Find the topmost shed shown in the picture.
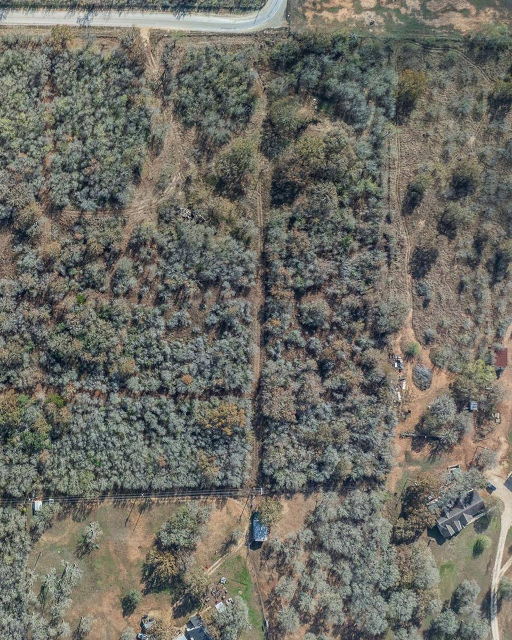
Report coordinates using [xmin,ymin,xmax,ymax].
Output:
[492,348,508,367]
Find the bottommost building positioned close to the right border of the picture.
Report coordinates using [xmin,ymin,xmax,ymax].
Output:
[436,490,489,535]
